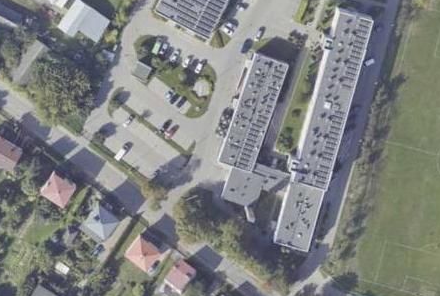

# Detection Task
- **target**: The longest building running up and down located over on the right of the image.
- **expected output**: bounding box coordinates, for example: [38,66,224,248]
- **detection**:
[289,8,373,191]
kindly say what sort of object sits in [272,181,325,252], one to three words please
building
